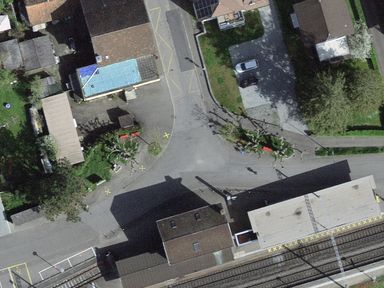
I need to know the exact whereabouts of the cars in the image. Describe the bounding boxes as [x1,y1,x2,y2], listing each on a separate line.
[236,58,260,72]
[239,75,260,88]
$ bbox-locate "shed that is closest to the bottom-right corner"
[248,176,381,248]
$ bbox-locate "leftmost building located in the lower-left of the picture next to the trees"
[11,202,56,225]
